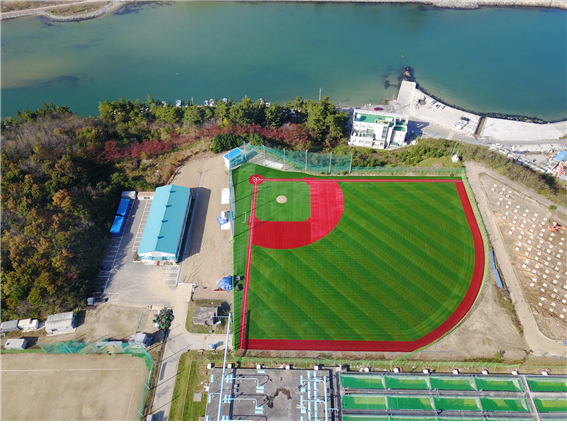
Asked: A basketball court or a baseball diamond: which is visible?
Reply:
baseball diamond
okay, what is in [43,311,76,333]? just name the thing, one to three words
shed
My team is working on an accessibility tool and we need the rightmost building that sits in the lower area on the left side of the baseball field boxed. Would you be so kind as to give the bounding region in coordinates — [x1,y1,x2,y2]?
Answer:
[194,308,218,326]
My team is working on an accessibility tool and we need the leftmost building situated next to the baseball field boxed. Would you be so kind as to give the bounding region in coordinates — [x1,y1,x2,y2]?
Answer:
[136,184,193,266]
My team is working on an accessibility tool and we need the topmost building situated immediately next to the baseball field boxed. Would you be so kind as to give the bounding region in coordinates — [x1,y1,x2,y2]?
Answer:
[349,108,405,149]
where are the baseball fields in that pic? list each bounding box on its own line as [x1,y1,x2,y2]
[231,161,486,351]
